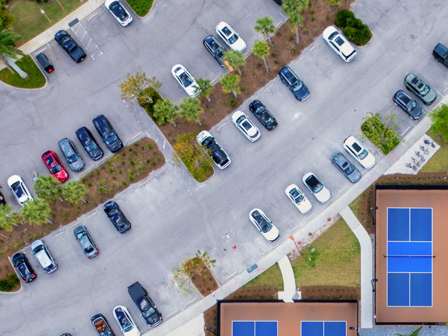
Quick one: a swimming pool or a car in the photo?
car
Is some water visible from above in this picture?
No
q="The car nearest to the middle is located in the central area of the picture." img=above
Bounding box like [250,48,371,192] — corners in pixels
[198,130,229,171]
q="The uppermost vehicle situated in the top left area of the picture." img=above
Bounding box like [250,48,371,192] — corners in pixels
[104,0,131,28]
